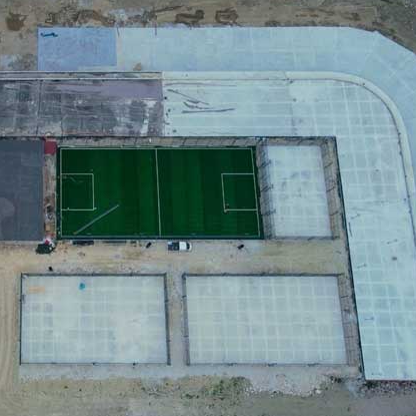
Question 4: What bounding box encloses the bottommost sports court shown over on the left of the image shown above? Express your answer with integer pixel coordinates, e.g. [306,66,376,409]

[20,275,168,364]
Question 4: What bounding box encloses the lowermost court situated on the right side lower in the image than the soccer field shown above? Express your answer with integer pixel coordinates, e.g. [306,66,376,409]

[184,275,348,364]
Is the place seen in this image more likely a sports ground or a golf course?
sports ground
